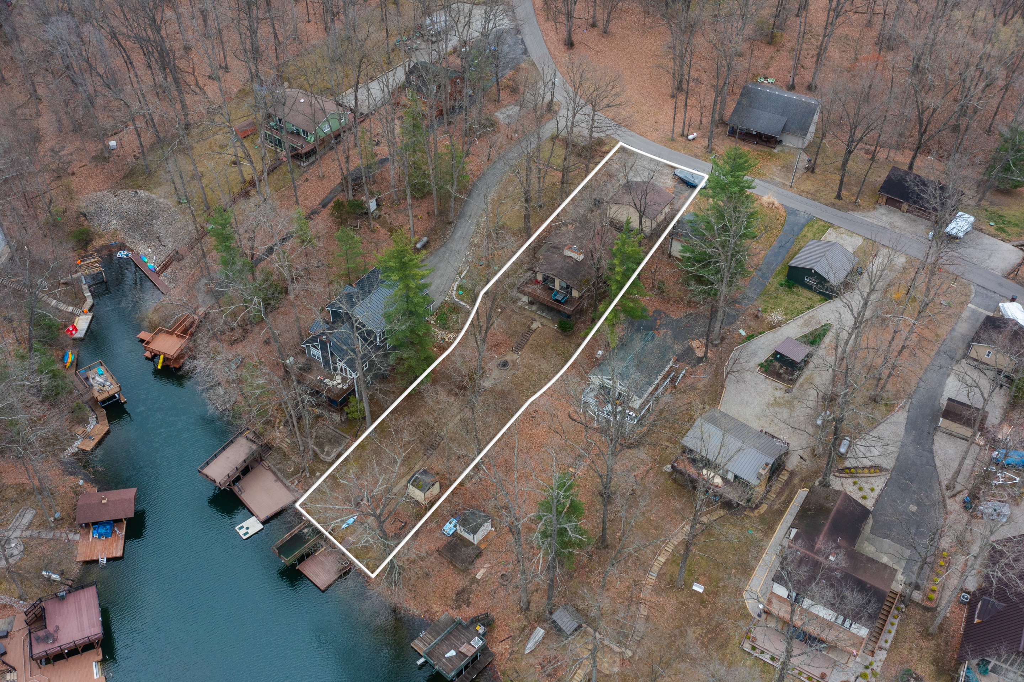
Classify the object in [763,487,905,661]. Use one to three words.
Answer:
house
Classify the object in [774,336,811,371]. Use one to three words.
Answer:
shed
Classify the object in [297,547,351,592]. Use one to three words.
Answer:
pier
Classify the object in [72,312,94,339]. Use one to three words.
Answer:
pier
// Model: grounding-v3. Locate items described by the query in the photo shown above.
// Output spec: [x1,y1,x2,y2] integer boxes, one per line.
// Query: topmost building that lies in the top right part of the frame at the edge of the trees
[724,83,824,152]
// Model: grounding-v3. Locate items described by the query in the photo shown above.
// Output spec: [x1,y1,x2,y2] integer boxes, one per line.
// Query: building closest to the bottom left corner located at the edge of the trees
[76,483,140,563]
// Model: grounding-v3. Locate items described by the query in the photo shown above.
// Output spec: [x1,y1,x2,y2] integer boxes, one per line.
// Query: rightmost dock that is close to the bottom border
[410,609,495,682]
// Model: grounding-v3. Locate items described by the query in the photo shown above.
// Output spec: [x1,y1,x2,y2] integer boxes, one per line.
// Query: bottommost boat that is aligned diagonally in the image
[524,626,545,654]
